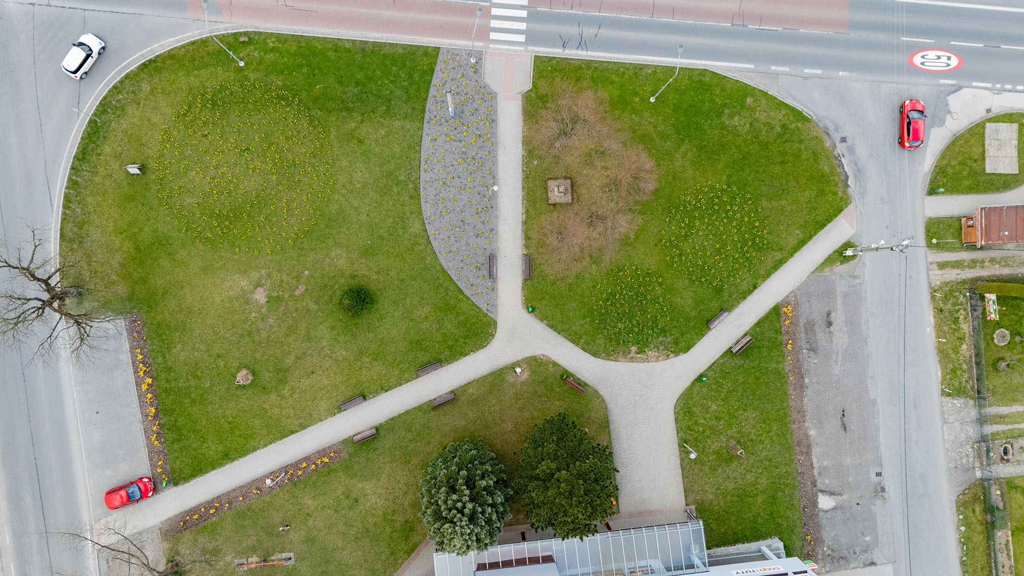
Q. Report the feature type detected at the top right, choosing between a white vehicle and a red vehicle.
red vehicle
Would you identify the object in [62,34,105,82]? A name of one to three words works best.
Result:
car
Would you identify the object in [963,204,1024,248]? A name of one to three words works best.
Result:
shed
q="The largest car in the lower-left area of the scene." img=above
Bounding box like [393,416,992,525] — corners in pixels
[102,475,159,511]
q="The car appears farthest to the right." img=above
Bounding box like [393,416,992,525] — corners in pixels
[897,100,928,151]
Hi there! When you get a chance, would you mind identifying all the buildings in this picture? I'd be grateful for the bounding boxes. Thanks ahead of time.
[963,204,1024,248]
[433,509,818,576]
